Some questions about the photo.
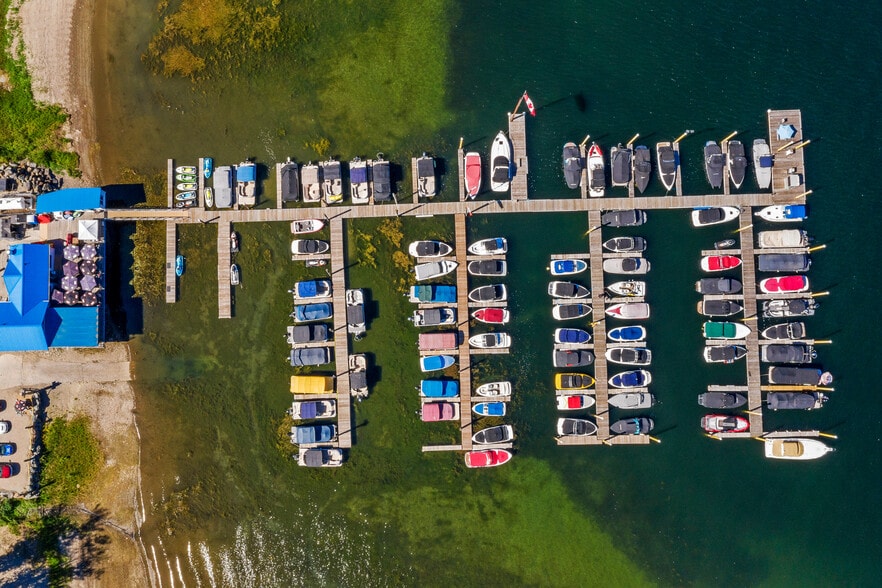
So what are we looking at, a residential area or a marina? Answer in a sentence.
What you see here is a marina.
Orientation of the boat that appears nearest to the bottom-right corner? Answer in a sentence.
I'd say the boat that appears nearest to the bottom-right corner is aligned from side to side in the picture.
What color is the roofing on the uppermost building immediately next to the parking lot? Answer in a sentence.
The color of the roof on the uppermost building immediately next to the parking lot is blue.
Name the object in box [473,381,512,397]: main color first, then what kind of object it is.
white boat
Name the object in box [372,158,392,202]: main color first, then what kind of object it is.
gray boat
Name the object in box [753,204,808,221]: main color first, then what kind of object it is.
white boat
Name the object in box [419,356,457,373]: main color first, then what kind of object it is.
blue boat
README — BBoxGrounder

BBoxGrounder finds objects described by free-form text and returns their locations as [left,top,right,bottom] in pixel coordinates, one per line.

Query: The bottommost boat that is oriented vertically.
[349,353,368,400]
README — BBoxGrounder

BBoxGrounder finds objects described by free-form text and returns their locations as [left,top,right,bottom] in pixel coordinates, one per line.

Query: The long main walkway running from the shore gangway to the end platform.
[167,114,771,224]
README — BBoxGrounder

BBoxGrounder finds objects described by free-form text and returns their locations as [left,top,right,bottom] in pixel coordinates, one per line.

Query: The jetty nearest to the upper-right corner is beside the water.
[768,110,806,205]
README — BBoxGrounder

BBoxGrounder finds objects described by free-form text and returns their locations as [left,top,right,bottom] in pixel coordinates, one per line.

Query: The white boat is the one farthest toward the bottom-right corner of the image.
[764,437,836,461]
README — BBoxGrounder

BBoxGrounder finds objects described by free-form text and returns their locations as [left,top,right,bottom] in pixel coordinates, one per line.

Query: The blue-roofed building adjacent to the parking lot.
[0,244,100,350]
